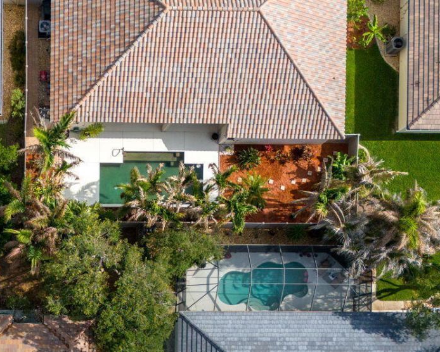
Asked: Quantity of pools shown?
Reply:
2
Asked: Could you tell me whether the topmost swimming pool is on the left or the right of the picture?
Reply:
left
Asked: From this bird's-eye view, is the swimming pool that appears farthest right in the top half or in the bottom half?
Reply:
bottom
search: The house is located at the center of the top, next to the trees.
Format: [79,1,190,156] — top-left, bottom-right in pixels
[49,0,348,144]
